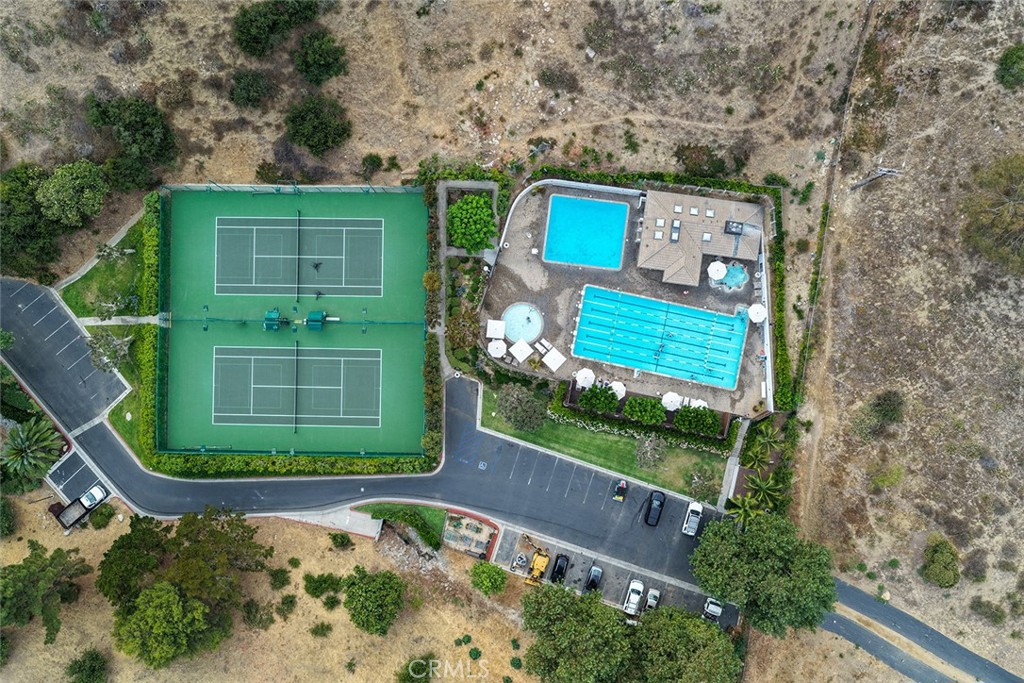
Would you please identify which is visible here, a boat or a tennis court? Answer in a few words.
tennis court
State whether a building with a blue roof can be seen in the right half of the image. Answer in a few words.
No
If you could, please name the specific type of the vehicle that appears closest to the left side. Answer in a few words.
truck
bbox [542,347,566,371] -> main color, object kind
white umbrella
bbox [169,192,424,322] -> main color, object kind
green tennis court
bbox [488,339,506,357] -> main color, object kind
white umbrella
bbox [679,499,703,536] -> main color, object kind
white car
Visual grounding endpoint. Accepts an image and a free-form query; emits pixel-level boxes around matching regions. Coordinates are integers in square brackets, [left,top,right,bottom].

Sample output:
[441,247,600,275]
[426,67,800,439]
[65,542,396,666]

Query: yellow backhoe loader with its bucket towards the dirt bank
[522,530,552,585]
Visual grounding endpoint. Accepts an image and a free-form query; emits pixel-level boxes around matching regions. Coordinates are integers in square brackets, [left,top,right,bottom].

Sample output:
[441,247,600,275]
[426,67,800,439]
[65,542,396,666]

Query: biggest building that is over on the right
[637,190,764,287]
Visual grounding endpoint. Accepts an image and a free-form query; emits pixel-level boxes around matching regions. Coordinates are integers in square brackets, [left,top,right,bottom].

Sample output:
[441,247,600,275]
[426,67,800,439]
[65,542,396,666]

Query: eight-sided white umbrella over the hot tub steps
[707,261,726,280]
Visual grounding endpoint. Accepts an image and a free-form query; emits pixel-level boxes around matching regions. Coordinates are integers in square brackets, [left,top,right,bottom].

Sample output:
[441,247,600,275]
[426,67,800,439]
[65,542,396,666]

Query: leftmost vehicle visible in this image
[52,483,107,531]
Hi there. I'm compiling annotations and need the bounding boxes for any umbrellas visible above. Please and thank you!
[662,392,681,411]
[509,338,534,362]
[688,395,708,414]
[488,339,506,357]
[576,368,595,387]
[487,320,505,338]
[707,261,726,280]
[747,304,766,322]
[542,347,566,371]
[607,381,626,400]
